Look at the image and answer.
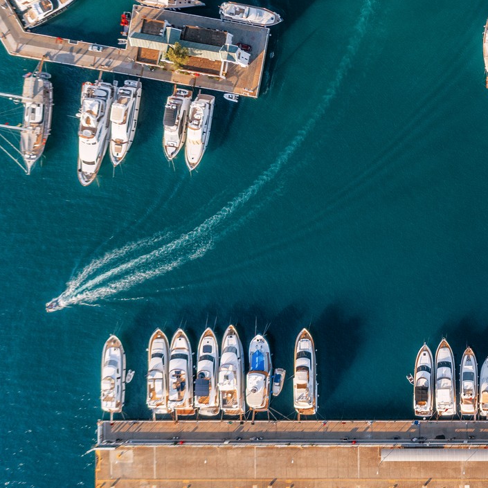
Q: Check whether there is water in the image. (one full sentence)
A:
Yes, water can be seen from above here.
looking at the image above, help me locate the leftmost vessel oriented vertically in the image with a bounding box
[0,64,52,178]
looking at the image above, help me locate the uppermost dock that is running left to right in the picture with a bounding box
[0,0,274,99]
